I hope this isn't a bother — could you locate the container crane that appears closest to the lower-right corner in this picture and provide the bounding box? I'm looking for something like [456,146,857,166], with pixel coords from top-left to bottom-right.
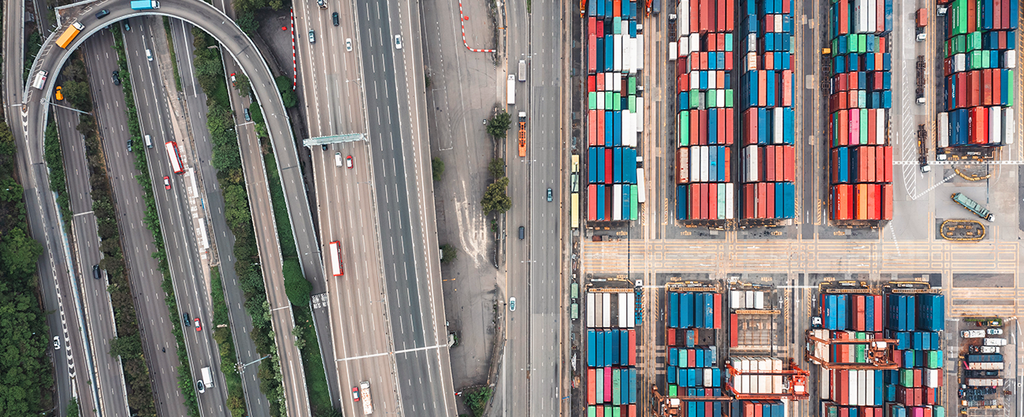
[807,331,903,368]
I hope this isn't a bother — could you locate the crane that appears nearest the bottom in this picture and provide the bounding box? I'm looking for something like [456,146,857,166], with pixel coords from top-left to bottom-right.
[653,383,739,417]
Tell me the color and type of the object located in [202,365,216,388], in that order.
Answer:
white vehicle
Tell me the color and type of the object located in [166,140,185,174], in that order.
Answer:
white vehicle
